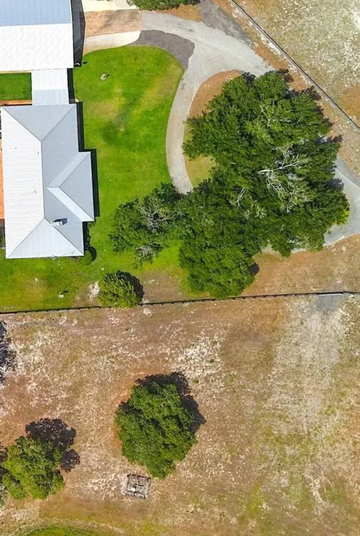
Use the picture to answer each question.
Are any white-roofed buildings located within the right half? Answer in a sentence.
No, I see no white-roofed building within the right half.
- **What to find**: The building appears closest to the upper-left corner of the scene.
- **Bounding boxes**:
[0,0,74,70]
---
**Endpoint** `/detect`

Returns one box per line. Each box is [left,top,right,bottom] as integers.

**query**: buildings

[0,0,74,70]
[0,103,94,259]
